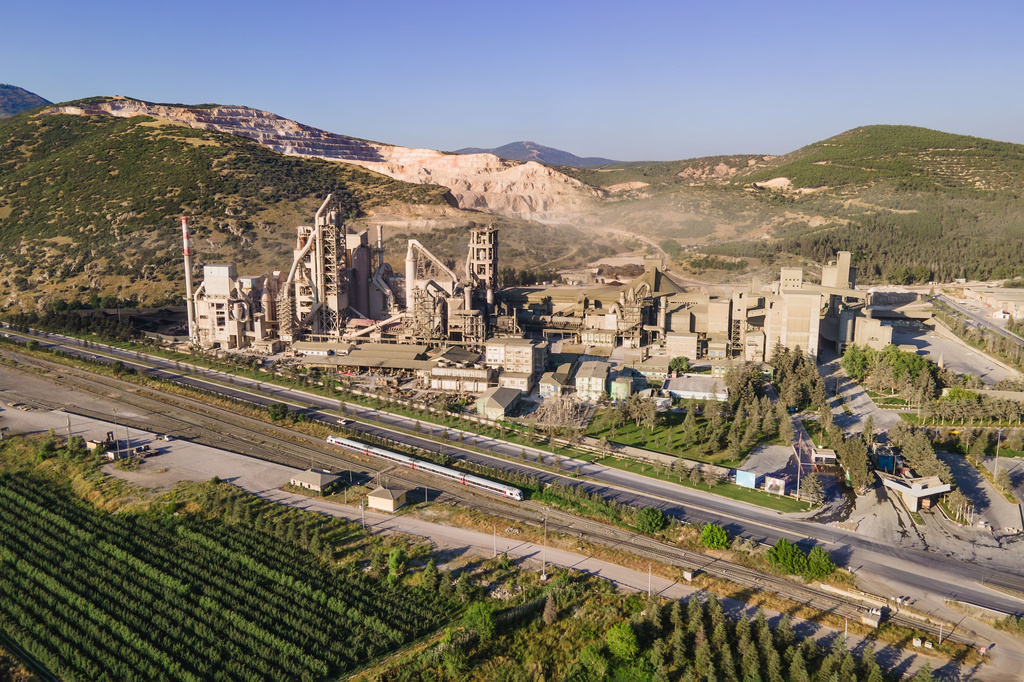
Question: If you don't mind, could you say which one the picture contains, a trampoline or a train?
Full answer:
This aerial view contains a train.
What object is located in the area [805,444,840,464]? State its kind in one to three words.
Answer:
building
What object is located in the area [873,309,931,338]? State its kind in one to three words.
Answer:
shed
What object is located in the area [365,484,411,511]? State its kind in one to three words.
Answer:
shed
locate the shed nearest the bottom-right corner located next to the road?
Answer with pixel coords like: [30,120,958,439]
[862,599,898,628]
